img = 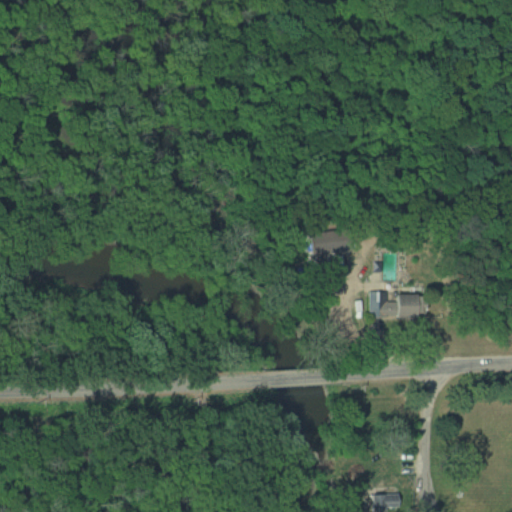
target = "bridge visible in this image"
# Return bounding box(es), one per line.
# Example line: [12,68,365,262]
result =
[263,368,328,388]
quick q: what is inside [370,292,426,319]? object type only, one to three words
house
